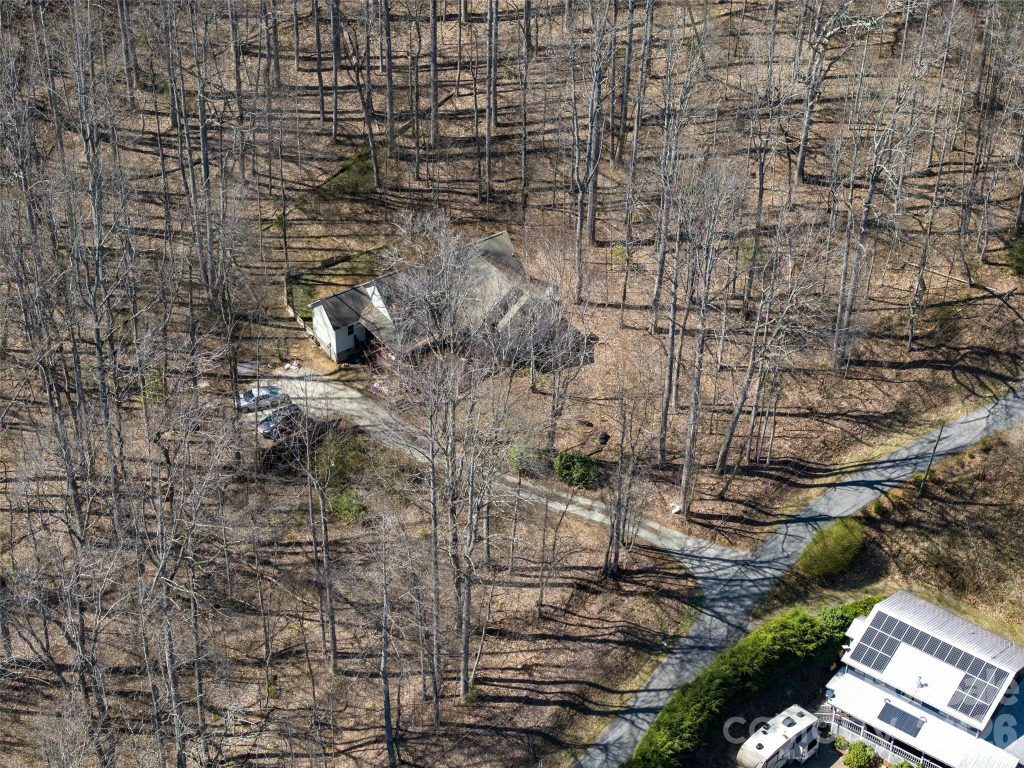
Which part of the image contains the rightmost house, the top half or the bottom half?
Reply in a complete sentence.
The rightmost house is in the bottom half of the image.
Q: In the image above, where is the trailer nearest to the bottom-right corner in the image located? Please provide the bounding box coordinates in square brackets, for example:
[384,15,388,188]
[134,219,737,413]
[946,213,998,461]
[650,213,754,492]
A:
[731,704,821,768]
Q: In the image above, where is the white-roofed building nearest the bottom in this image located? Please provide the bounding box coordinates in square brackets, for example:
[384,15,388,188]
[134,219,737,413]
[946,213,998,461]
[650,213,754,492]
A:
[810,589,1024,768]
